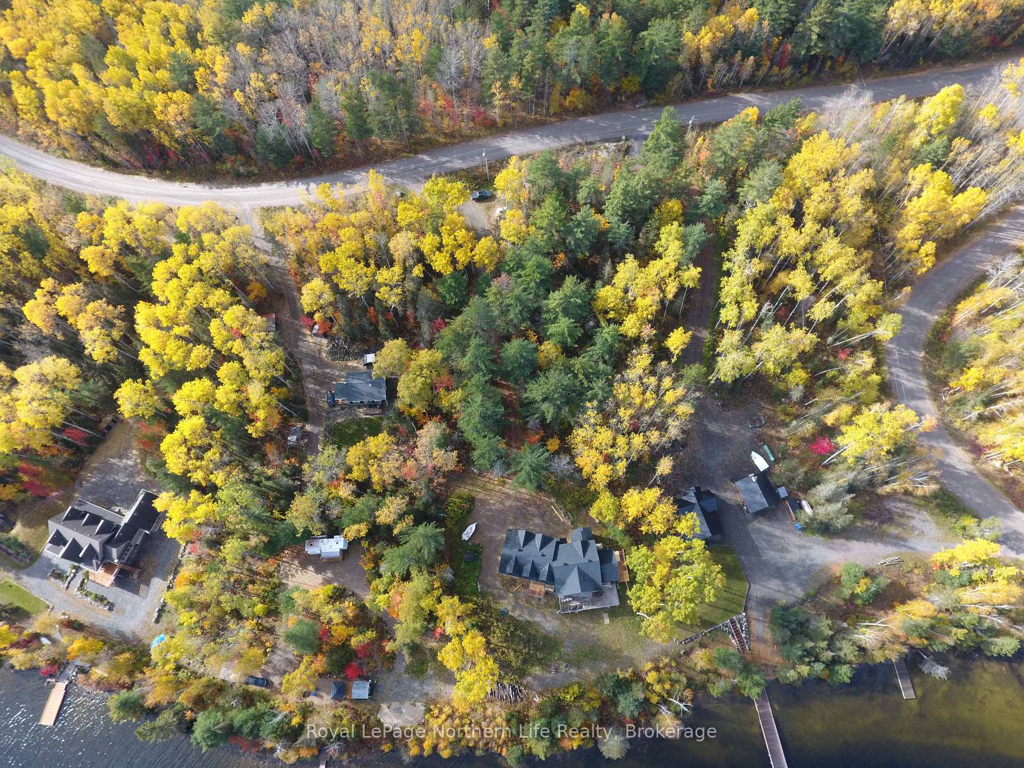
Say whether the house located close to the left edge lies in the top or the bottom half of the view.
bottom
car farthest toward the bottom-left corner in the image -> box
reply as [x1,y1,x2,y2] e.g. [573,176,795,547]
[243,676,268,689]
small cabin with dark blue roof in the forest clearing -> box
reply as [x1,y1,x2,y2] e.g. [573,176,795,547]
[334,370,388,415]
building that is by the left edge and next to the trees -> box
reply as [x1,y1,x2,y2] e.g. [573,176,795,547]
[42,482,173,587]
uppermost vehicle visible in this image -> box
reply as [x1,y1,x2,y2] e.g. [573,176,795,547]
[470,189,492,201]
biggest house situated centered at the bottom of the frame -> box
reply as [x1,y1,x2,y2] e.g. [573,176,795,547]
[498,521,631,614]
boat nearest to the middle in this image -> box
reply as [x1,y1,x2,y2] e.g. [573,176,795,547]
[459,522,476,543]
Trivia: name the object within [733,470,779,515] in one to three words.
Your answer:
building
